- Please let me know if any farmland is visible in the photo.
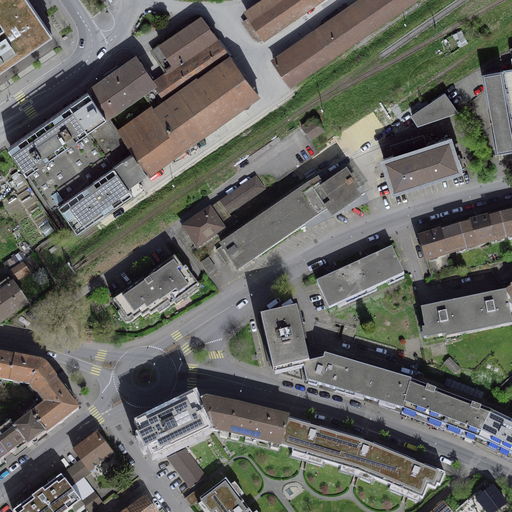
No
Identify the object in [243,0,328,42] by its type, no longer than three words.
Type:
building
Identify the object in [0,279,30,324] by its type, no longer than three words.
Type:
house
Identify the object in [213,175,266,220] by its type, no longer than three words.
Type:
shed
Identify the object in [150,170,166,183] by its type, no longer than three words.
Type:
vehicle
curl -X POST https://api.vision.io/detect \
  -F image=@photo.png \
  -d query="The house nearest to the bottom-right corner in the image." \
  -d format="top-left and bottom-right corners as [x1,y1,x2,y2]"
[454,484,511,512]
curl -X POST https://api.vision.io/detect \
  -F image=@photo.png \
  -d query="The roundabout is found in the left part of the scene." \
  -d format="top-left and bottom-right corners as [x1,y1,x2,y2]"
[130,362,160,390]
